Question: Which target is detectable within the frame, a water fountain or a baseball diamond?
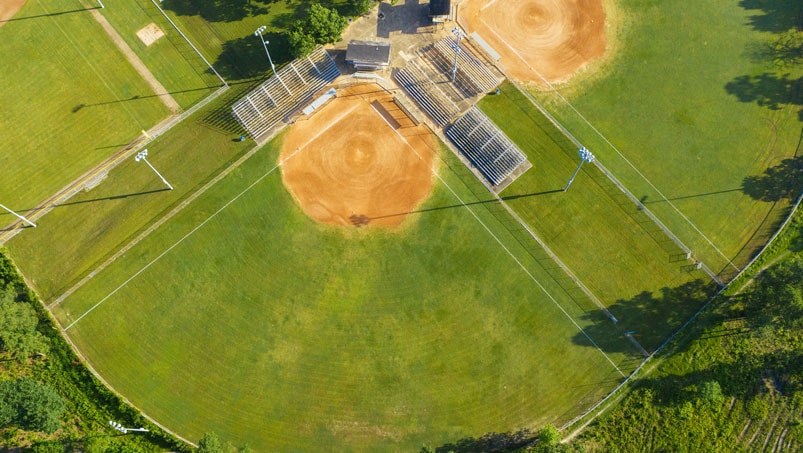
baseball diamond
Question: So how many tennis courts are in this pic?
0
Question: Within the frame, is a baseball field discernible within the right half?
Yes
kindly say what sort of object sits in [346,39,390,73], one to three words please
building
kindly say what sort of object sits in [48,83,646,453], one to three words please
baseball field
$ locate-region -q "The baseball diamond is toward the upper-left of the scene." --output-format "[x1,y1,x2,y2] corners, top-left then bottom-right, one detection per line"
[0,0,227,237]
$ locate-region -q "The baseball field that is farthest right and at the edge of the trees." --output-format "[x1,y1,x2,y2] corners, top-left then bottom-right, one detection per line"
[462,0,803,284]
